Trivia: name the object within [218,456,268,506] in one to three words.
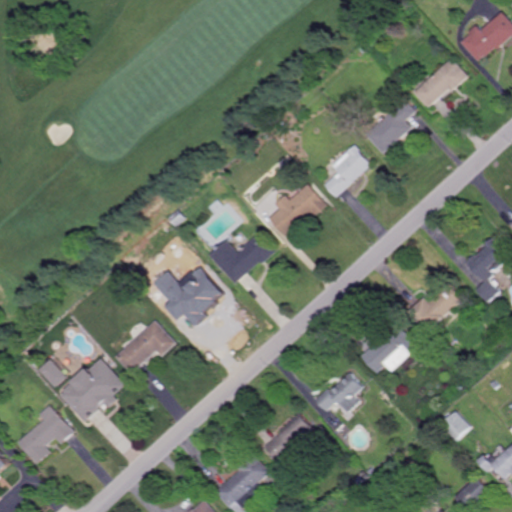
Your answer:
house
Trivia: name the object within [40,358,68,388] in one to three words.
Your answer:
building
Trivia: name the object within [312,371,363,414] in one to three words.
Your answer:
house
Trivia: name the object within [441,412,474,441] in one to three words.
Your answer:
barn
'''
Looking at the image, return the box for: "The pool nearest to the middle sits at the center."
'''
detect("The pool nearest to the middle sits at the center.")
[196,200,244,248]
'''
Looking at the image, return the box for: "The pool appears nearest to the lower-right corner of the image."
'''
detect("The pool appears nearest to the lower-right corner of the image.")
[348,424,372,452]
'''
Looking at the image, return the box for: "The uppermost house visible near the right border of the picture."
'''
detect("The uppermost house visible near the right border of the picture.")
[458,12,512,62]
